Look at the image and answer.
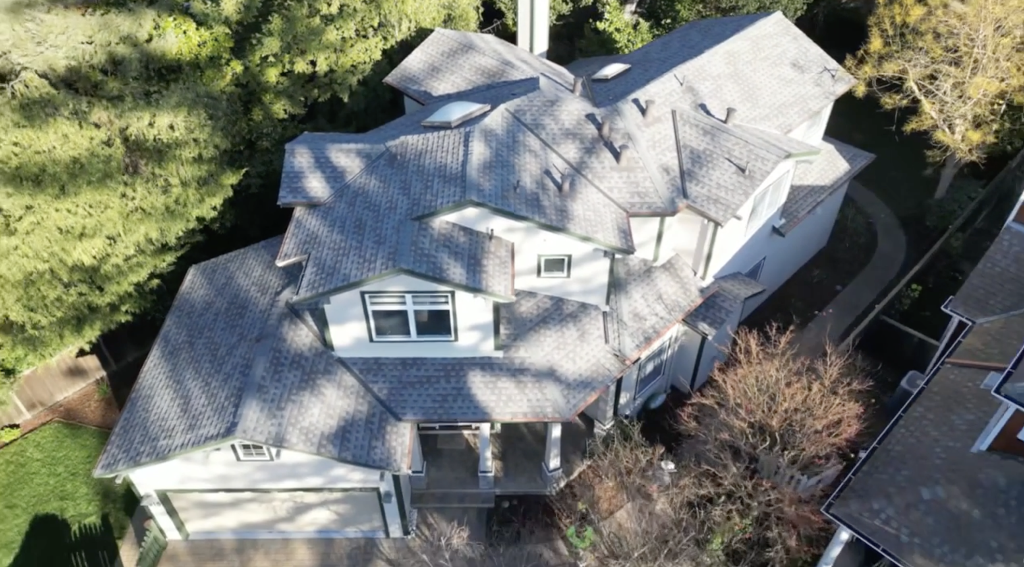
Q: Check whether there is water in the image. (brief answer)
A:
No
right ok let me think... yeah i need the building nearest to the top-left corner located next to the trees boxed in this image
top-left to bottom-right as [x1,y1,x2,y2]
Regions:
[92,0,876,539]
